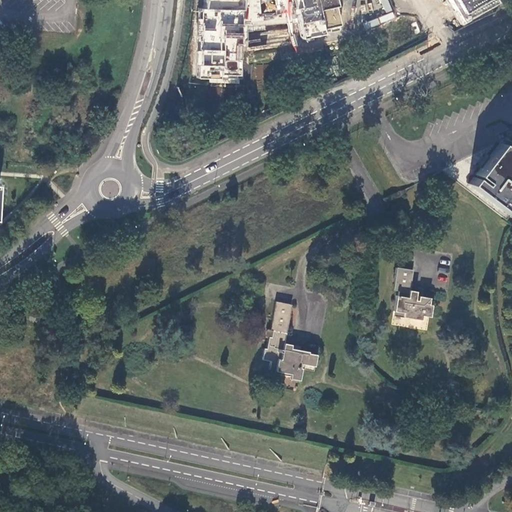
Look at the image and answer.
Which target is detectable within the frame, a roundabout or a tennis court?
roundabout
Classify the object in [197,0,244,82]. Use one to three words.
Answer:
building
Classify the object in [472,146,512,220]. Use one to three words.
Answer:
building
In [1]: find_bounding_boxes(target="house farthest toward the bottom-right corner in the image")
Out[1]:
[391,290,434,331]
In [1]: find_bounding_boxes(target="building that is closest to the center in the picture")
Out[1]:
[263,302,318,382]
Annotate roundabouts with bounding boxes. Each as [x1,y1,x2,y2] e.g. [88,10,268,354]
[83,161,137,215]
